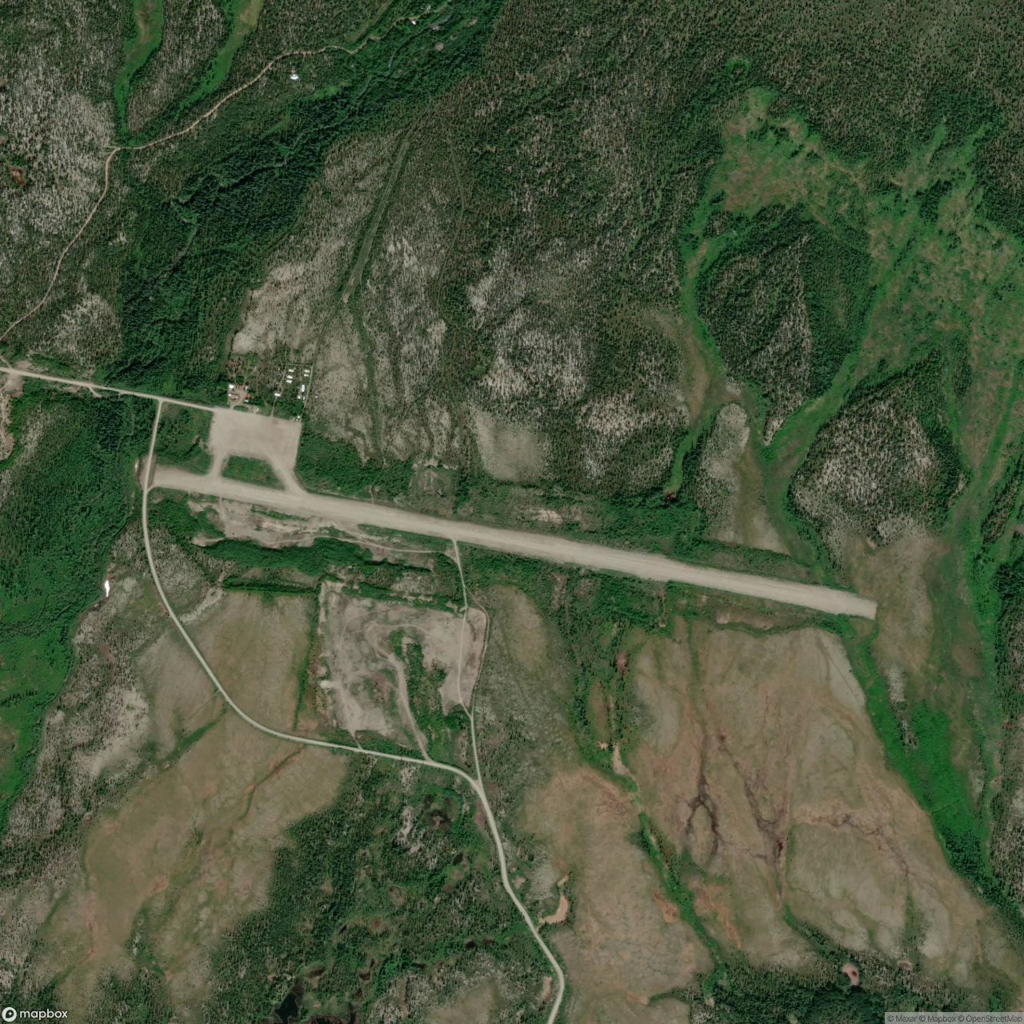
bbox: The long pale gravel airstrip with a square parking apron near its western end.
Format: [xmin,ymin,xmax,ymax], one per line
[151,410,878,618]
